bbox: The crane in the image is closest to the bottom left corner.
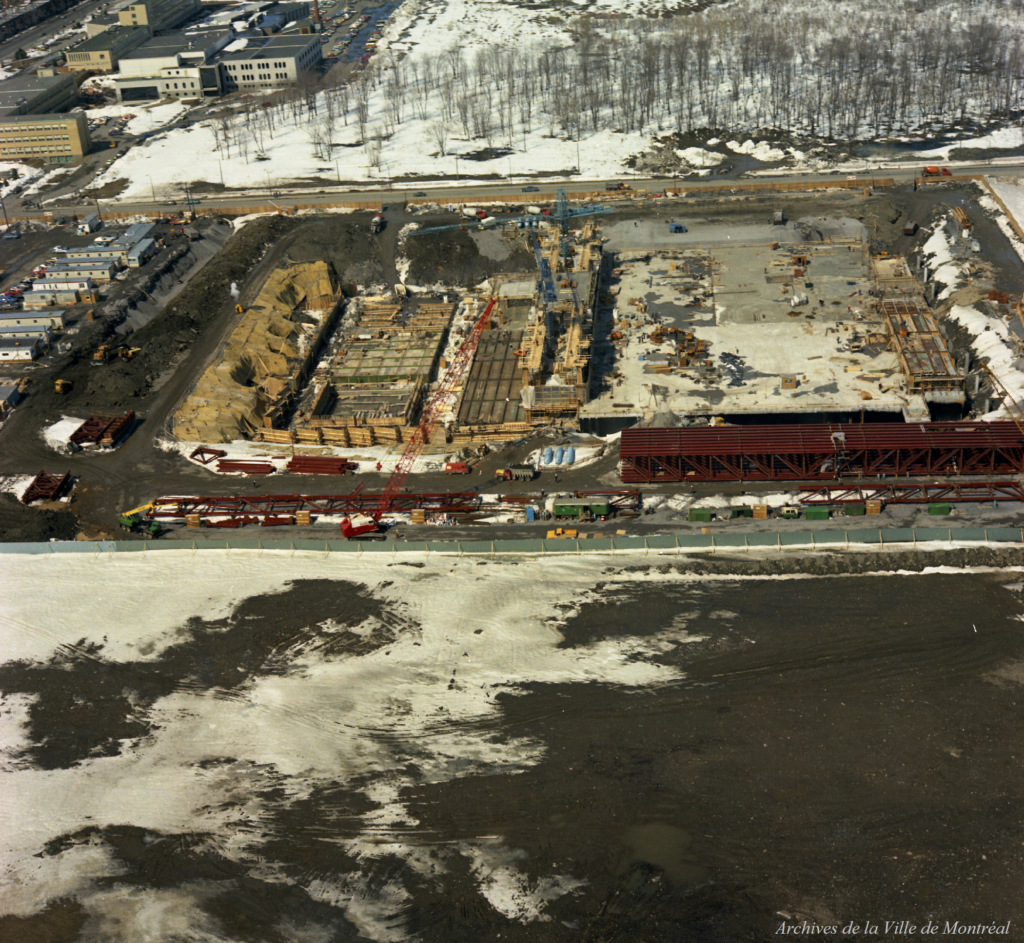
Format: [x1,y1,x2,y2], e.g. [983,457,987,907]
[111,497,179,537]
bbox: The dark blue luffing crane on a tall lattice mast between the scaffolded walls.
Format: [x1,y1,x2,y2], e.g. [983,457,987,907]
[529,225,555,355]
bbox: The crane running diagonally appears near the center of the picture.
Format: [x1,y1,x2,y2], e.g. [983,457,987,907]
[339,295,503,541]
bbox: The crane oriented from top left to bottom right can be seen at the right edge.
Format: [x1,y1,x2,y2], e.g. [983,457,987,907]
[980,362,1024,432]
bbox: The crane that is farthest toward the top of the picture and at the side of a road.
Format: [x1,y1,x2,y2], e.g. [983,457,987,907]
[401,182,612,260]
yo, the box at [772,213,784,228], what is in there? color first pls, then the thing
gray vehicle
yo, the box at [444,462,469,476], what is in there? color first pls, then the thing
red vehicle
